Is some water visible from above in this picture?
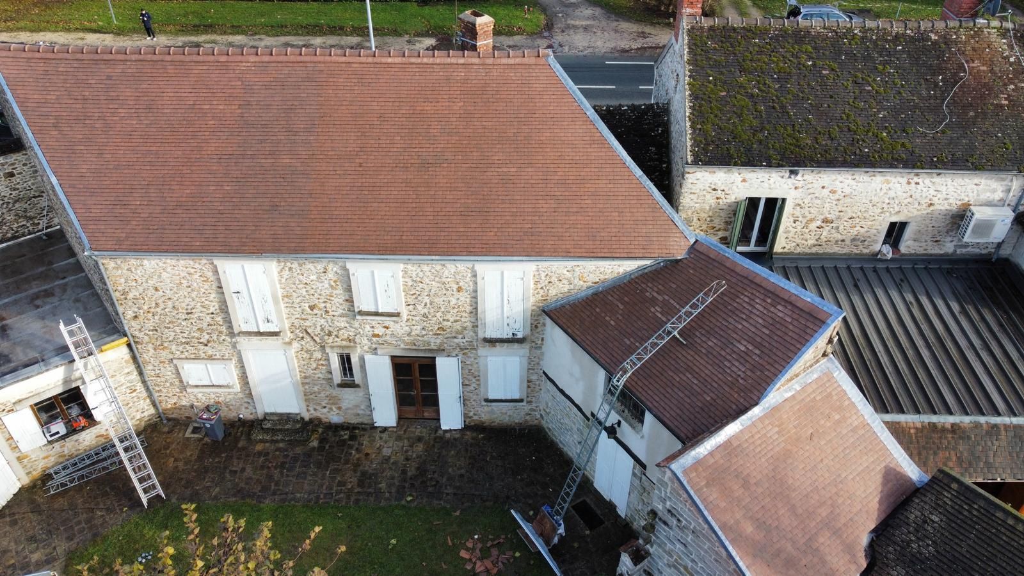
No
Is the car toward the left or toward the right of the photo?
right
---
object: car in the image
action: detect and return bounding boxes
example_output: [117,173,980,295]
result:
[786,0,860,20]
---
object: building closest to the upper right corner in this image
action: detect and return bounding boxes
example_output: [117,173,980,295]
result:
[652,0,1024,269]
